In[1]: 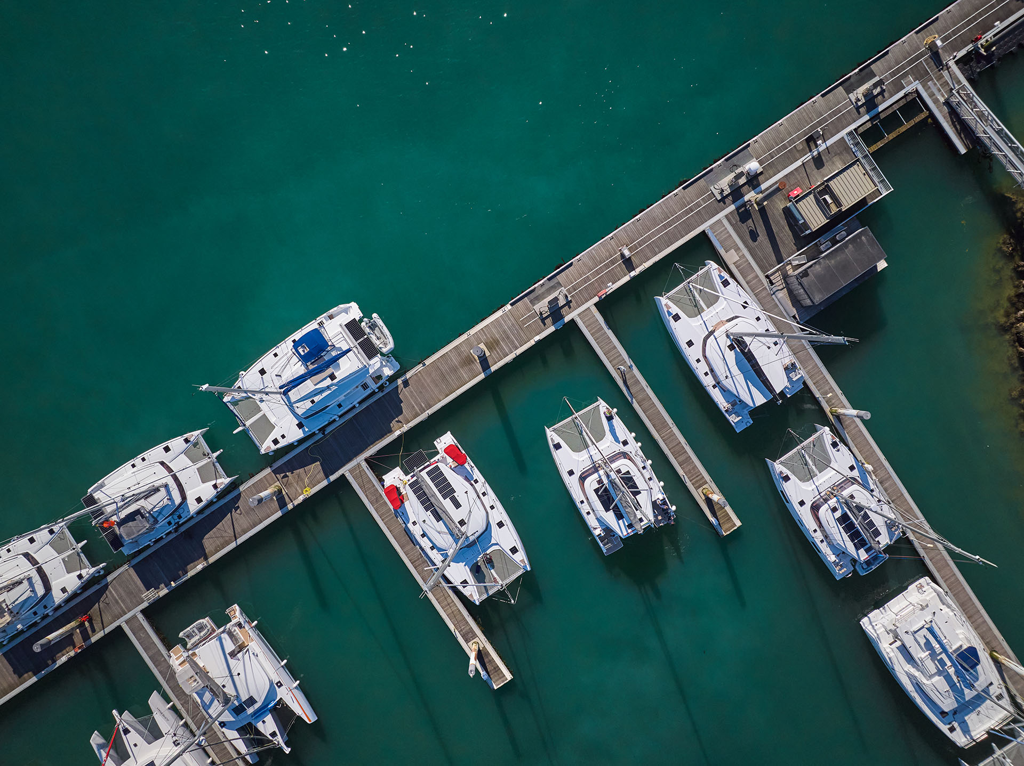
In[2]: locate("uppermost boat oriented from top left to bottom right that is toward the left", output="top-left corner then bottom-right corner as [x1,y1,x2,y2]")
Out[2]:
[358,312,397,358]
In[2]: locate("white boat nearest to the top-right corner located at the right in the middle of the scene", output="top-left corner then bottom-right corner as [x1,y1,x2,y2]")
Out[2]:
[654,261,856,433]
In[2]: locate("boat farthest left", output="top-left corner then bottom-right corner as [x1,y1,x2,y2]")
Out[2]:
[0,514,118,639]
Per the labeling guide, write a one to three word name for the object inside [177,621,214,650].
boat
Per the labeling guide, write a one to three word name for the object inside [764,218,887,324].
shed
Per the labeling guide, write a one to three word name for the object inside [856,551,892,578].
boat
